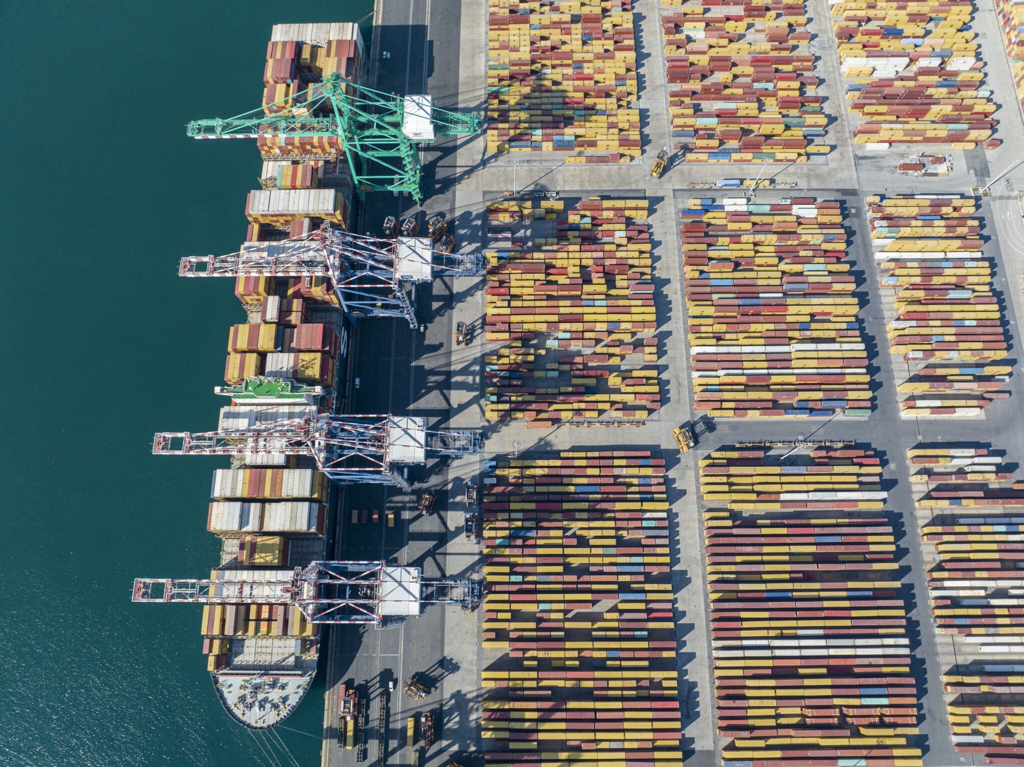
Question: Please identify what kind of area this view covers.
port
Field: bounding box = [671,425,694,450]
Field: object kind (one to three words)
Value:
work vehicle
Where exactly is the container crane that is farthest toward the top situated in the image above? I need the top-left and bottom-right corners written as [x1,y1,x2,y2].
[184,65,484,203]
